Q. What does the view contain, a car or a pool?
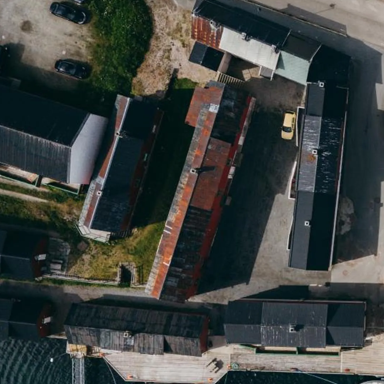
car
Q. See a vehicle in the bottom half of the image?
No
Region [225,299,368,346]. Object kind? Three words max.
building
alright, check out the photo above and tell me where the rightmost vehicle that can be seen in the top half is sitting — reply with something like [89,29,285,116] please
[279,109,296,140]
